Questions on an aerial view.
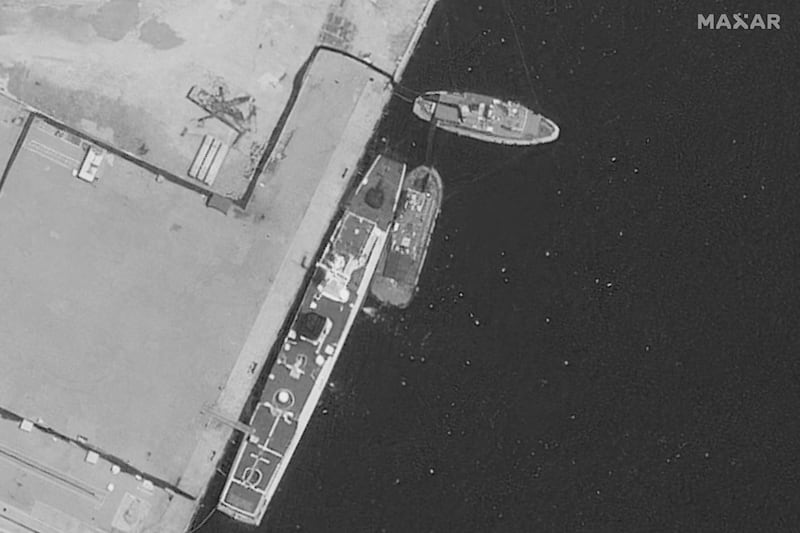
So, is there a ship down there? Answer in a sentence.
Yes, there is a ship in the image.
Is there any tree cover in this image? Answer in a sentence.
No, no tree cover is visible.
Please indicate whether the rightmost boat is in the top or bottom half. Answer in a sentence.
The rightmost boat is in the top half of the image.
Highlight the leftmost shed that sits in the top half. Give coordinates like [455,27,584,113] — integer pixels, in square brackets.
[78,145,106,182]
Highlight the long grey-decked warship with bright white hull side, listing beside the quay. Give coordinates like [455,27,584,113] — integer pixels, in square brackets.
[217,155,407,524]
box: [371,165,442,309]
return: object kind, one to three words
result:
boat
